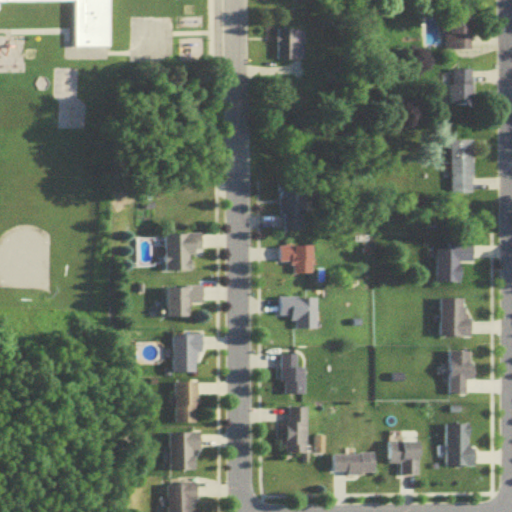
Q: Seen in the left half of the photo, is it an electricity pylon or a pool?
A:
pool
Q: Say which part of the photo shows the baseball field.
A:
left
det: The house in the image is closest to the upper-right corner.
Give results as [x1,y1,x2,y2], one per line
[446,22,472,49]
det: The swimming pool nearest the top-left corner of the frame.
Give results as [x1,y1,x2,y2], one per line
[136,237,158,267]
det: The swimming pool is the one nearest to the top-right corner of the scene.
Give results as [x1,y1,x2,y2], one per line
[421,20,440,48]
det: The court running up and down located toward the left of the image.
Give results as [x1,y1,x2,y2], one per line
[54,68,86,132]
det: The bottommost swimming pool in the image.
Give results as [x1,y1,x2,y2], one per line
[136,342,163,364]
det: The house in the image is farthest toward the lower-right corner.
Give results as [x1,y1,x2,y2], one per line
[447,423,478,467]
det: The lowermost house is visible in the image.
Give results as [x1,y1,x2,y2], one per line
[168,482,197,512]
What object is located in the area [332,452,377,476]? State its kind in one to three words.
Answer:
house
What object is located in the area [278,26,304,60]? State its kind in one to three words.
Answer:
house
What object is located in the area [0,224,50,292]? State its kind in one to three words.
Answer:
baseball field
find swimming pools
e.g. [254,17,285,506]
[136,237,158,267]
[136,342,163,364]
[421,20,440,48]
